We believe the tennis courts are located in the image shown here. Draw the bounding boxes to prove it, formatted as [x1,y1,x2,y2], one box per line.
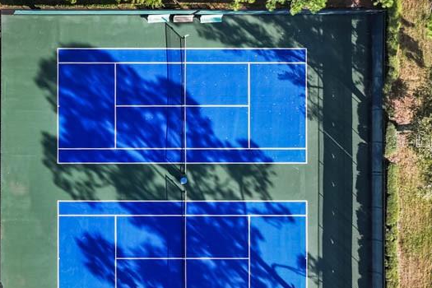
[0,17,372,183]
[2,183,372,288]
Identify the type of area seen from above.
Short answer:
sports ground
